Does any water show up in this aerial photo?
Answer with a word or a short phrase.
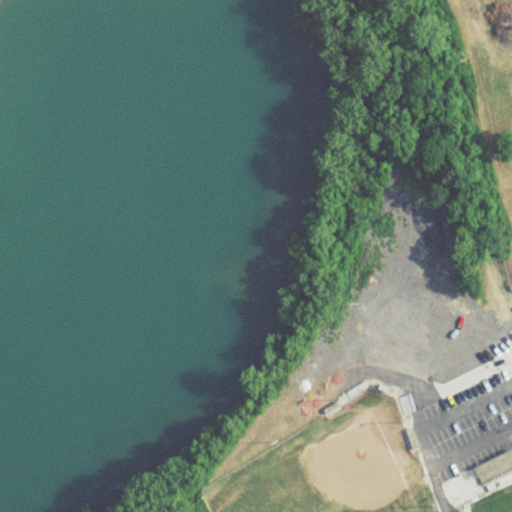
Yes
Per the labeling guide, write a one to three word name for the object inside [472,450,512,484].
building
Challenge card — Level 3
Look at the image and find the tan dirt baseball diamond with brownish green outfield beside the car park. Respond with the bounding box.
[204,391,437,512]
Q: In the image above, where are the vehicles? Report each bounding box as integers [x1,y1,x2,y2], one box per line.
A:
[494,360,504,366]
[455,395,462,404]
[472,387,479,396]
[451,330,460,338]
[478,384,486,394]
[442,402,448,412]
[460,392,467,402]
[454,424,461,434]
[484,350,491,360]
[480,421,487,431]
[489,404,496,414]
[458,317,464,329]
[494,346,502,356]
[466,390,474,400]
[501,413,508,424]
[506,338,512,348]
[478,352,484,362]
[490,378,498,388]
[452,464,459,474]
[448,396,456,406]
[501,342,508,352]
[484,380,492,392]
[496,375,502,384]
